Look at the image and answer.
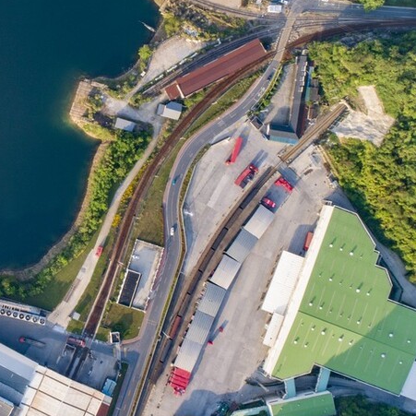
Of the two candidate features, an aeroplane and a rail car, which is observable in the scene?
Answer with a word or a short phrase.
rail car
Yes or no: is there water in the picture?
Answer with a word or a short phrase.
Yes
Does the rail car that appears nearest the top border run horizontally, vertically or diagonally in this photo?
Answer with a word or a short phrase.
diagonally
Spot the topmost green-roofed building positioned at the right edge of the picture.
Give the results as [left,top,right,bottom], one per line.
[265,204,416,397]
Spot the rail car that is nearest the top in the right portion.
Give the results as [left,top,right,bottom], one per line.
[254,172,274,194]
